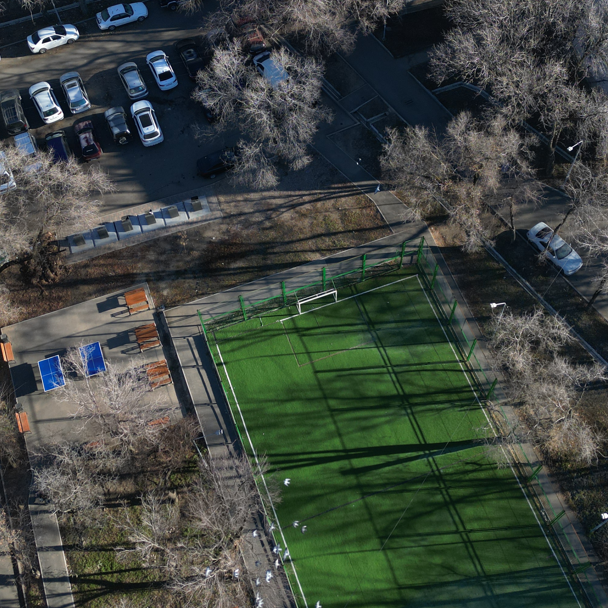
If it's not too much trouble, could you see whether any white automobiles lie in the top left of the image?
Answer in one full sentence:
Yes, there is a white automobile in the top left of the image.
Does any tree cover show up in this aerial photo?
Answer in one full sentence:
Yes, tree cover shows up in the scene.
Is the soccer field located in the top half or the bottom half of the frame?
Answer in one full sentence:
You can find the soccer field in the bottom half.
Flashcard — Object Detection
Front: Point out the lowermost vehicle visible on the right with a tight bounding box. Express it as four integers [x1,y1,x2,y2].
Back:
[529,224,579,277]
